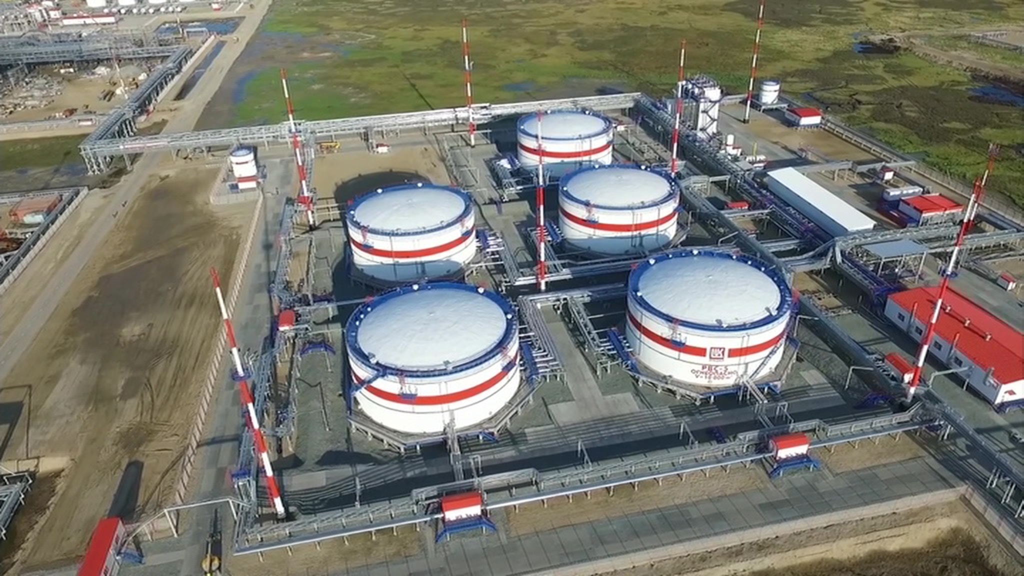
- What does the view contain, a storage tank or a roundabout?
storage tank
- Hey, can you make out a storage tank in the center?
Yes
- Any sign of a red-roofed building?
Yes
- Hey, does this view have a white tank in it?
Yes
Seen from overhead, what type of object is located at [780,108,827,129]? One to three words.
building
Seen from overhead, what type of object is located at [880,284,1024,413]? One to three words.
building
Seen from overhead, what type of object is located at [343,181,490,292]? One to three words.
storage tank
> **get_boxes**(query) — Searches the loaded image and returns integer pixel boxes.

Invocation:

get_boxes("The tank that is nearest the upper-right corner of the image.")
[751,78,790,108]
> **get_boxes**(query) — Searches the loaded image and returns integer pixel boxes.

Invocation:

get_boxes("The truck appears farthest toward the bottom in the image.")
[196,534,222,576]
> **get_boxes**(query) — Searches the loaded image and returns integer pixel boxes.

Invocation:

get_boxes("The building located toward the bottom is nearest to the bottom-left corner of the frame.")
[61,506,144,576]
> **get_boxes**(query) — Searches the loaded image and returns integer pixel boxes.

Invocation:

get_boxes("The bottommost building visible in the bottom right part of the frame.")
[758,425,829,474]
